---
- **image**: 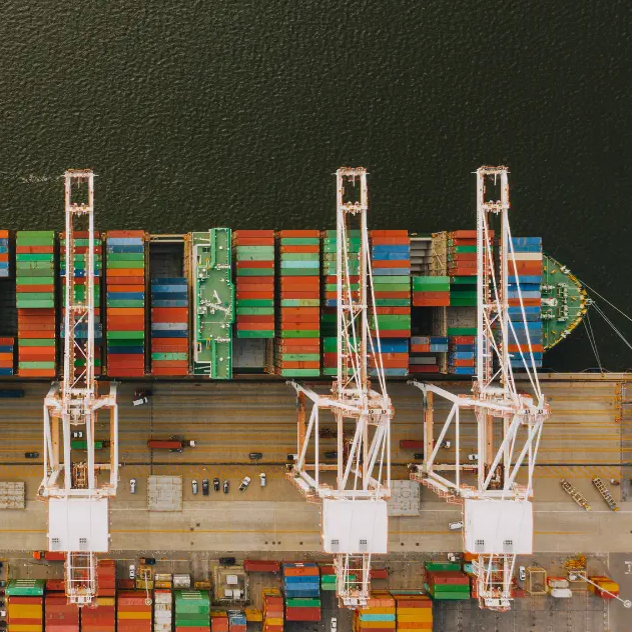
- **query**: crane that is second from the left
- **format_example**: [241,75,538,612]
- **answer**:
[283,167,398,608]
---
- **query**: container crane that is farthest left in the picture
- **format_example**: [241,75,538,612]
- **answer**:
[40,170,124,608]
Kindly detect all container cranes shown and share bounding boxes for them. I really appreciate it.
[283,167,398,608]
[40,170,124,608]
[404,166,552,608]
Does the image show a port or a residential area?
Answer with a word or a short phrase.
port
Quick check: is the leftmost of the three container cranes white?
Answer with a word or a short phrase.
Yes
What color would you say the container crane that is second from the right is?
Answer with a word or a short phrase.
white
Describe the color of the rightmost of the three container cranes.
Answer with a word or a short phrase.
white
